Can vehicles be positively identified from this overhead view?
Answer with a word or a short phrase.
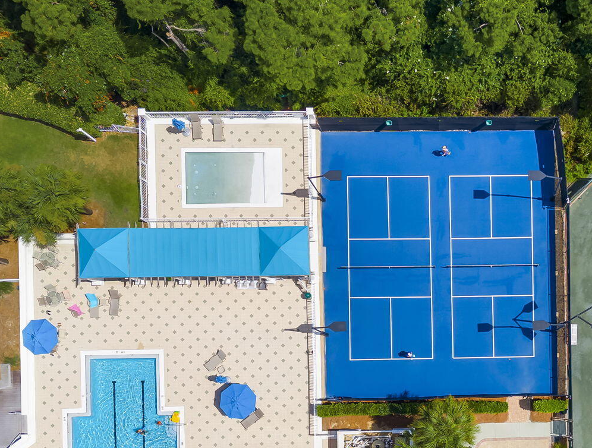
No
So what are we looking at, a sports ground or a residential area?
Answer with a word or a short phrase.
sports ground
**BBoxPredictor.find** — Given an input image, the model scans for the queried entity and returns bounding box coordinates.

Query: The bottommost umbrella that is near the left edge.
[25,320,63,354]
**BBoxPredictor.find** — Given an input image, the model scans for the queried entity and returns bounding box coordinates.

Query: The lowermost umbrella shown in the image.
[220,381,258,418]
